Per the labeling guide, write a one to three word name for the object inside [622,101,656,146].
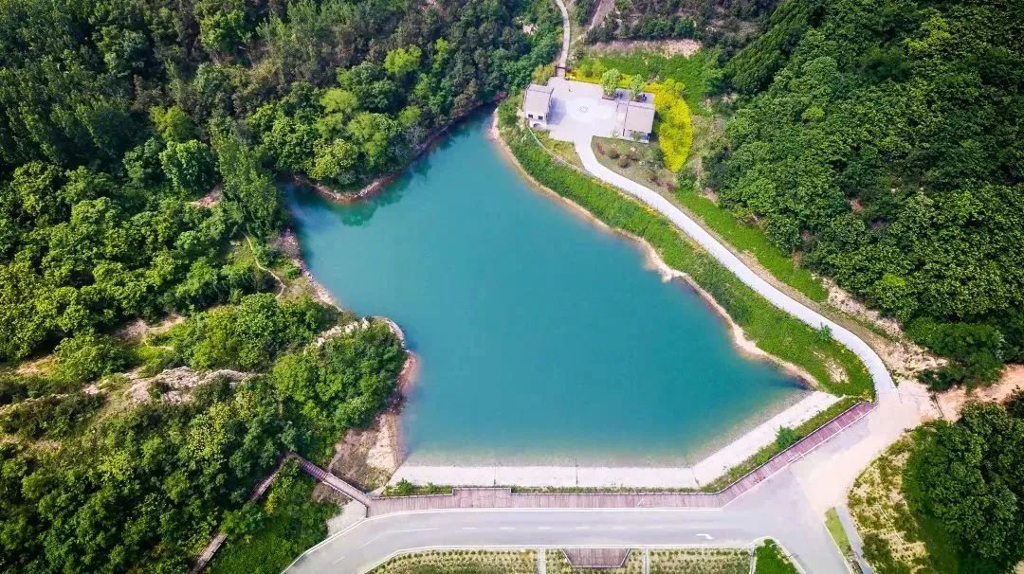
building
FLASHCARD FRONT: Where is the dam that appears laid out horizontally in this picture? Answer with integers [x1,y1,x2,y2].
[372,392,844,487]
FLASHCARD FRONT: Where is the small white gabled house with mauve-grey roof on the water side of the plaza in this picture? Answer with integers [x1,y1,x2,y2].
[523,85,554,132]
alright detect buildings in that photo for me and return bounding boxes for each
[523,85,554,132]
[622,101,656,146]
